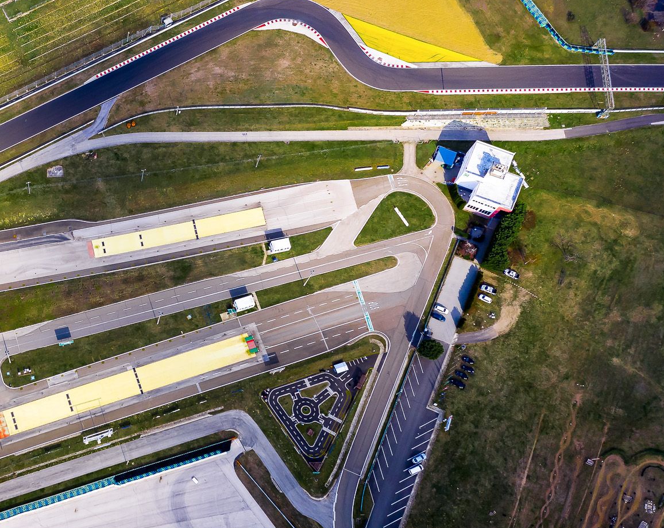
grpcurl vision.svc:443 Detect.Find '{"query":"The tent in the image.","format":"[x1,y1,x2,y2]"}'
[432,146,457,169]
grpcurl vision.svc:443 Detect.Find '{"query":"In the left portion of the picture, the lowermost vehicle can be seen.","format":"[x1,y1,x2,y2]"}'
[188,474,202,487]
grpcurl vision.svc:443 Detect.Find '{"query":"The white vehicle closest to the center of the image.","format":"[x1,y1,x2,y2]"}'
[433,303,449,316]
